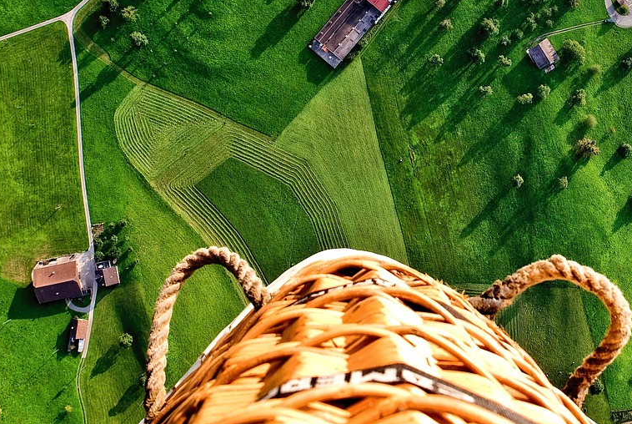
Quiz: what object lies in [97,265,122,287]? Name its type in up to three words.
building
